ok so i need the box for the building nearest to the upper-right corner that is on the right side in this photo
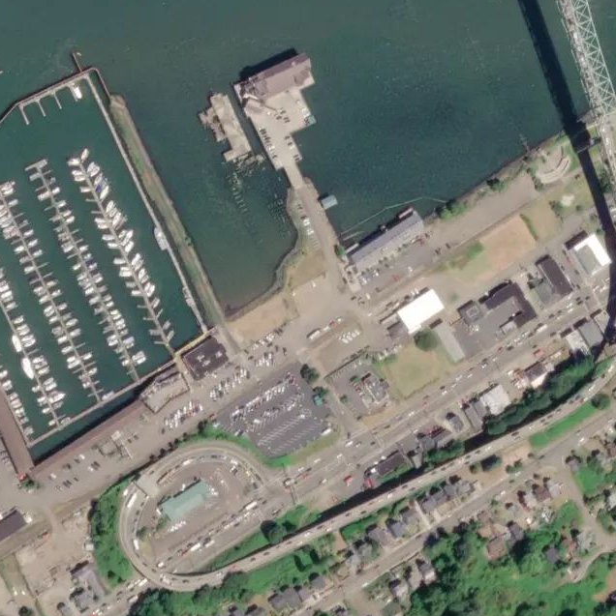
[568,234,613,278]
